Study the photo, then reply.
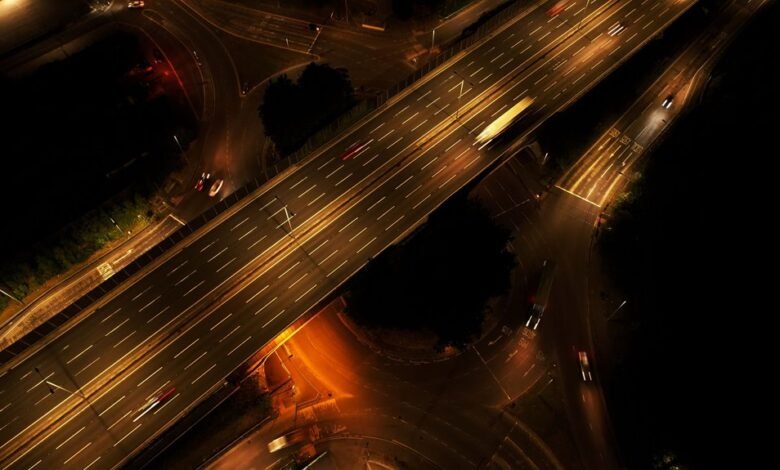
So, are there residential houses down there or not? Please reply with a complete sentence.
No, the photo shows no residential house.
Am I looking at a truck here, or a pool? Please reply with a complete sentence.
Looking from above, you can make out a truck.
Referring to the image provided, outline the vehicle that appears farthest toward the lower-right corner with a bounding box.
[580,356,592,376]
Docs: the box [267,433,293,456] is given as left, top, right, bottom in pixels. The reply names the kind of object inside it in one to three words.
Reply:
vehicle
